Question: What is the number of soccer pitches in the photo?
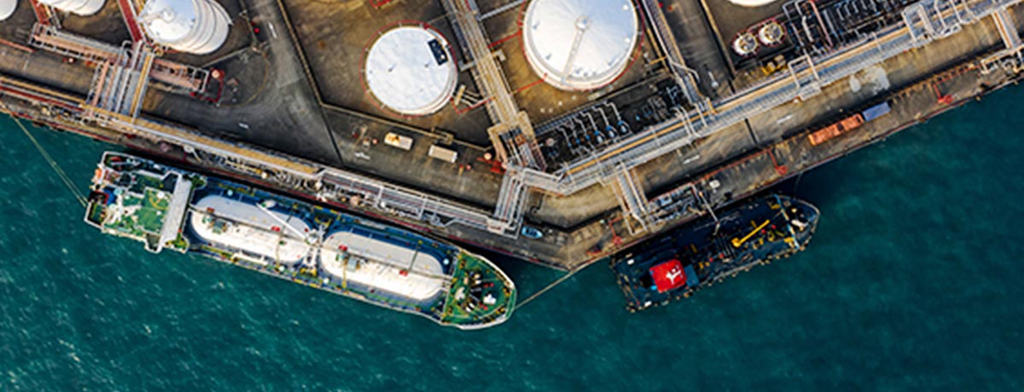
0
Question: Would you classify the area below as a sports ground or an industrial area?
industrial area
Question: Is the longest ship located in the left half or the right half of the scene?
left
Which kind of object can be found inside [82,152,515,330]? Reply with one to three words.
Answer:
ship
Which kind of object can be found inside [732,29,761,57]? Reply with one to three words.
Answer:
storage tank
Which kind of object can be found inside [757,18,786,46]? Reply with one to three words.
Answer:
storage tank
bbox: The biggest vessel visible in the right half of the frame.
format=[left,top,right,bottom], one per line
[610,194,820,312]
